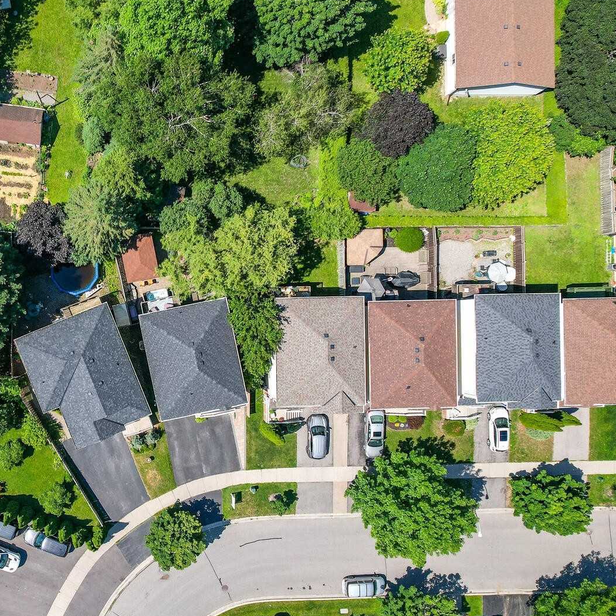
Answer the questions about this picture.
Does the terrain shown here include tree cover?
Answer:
Yes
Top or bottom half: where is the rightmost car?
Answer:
bottom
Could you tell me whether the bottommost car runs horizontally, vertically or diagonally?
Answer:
horizontally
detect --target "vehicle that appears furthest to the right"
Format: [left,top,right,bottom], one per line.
[486,406,512,452]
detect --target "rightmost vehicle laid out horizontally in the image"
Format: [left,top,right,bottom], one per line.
[340,575,385,597]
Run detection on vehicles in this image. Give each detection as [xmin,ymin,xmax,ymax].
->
[0,516,22,543]
[365,410,386,457]
[340,575,385,597]
[486,406,512,452]
[23,527,71,559]
[0,545,22,571]
[308,412,331,459]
